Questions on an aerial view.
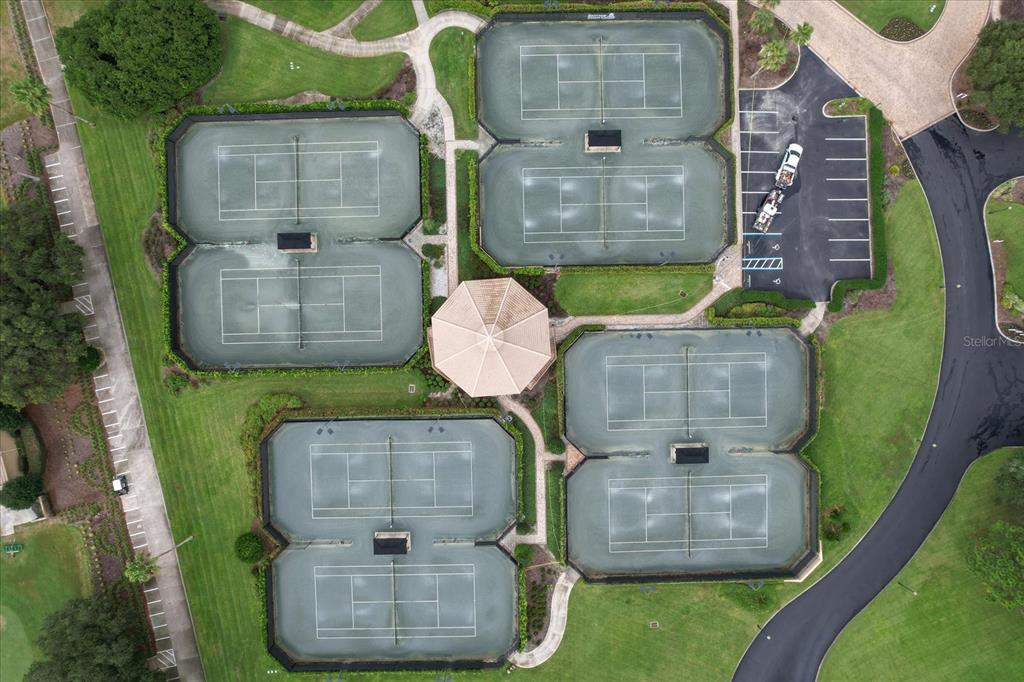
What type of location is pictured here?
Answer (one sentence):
The area seen from above is a sports ground.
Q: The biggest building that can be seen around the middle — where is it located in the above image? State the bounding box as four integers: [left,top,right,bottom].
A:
[427,277,558,397]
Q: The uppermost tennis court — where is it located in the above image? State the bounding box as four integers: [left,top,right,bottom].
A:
[478,20,725,142]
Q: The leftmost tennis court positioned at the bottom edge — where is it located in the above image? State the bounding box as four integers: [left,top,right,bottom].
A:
[274,541,516,661]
